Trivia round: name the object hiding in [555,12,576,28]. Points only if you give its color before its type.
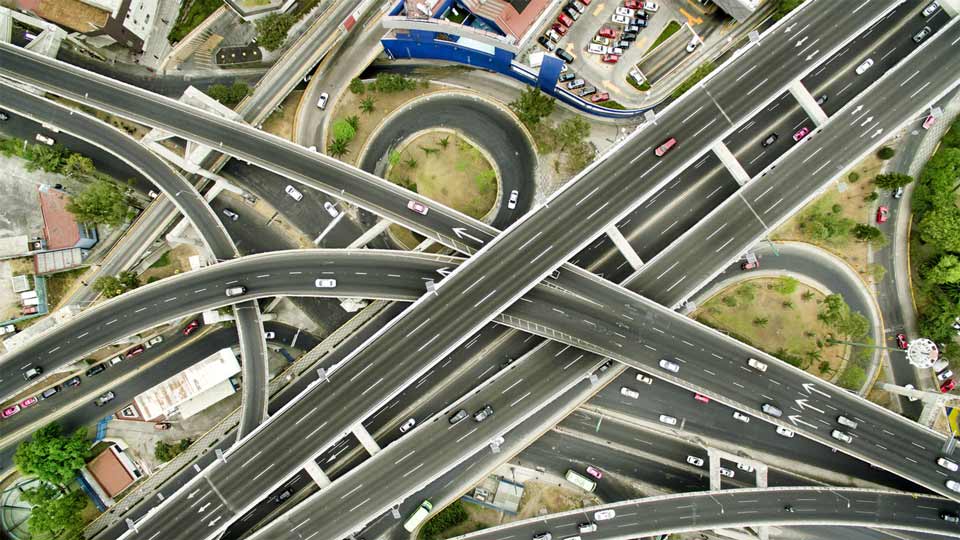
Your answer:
red car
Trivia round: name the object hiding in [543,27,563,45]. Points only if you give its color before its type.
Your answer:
white car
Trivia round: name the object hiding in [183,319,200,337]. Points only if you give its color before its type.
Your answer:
red car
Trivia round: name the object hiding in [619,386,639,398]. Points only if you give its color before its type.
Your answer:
white vehicle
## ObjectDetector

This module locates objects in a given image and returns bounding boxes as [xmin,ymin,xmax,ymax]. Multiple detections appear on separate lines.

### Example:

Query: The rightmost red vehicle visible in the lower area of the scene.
[937,378,956,392]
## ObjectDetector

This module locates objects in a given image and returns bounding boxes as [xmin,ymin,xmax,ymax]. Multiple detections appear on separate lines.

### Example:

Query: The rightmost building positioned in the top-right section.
[705,0,763,34]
